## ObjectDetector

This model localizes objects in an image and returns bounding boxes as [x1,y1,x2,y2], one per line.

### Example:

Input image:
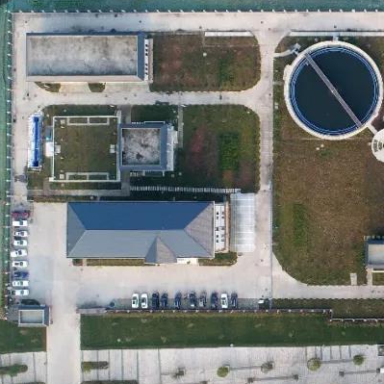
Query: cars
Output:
[188,293,196,308]
[129,293,138,308]
[173,293,181,308]
[11,280,27,287]
[11,213,28,220]
[230,293,237,308]
[149,293,158,308]
[138,293,147,308]
[12,231,27,237]
[158,293,168,308]
[9,220,27,228]
[10,261,26,268]
[11,290,27,297]
[9,249,25,257]
[12,240,27,246]
[219,293,227,308]
[11,271,27,278]
[209,293,217,308]
[19,297,37,304]
[198,293,206,308]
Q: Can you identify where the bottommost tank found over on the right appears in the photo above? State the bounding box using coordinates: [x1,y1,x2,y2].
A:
[280,41,384,140]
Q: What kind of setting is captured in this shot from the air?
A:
industrial area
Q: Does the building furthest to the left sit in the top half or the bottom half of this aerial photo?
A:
bottom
